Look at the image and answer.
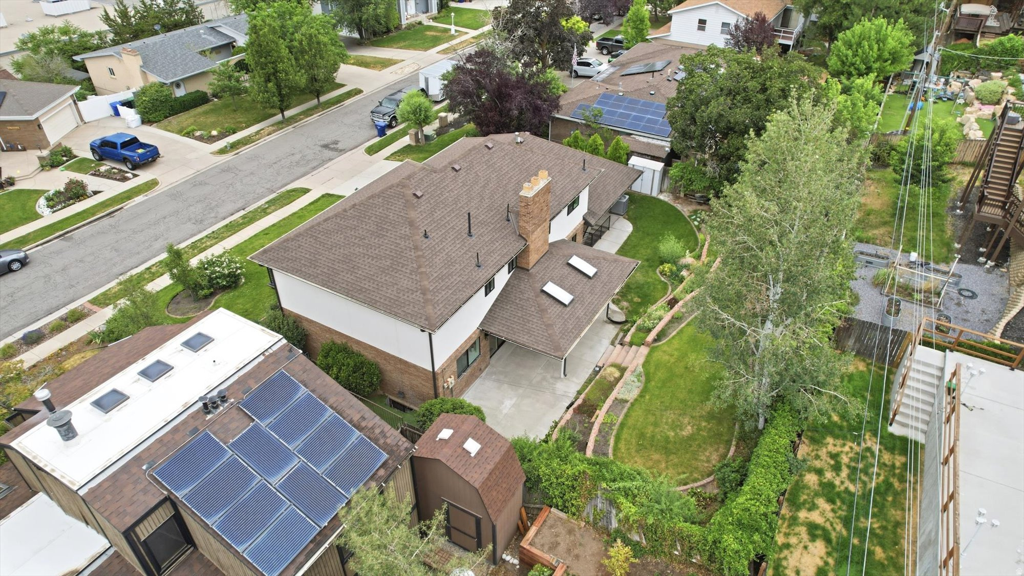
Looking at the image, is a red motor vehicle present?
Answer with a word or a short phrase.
No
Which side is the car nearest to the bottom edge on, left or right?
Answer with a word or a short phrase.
left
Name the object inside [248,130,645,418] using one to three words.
house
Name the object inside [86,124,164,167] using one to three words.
truck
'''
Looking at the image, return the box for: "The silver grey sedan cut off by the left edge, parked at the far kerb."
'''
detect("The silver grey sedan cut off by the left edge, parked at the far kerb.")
[0,246,32,278]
